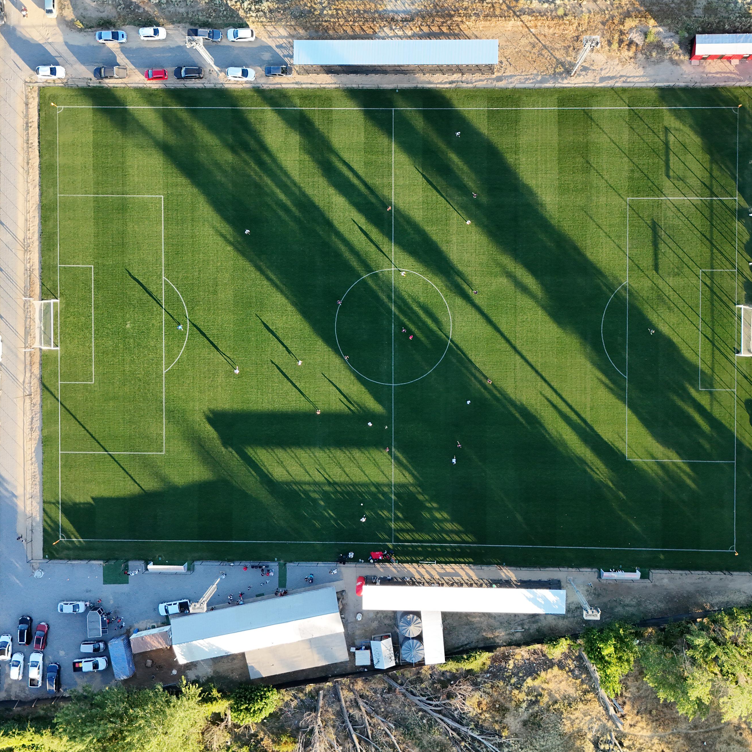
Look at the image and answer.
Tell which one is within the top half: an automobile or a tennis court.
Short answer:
automobile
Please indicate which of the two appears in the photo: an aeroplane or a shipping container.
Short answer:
shipping container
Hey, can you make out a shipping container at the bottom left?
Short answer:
Yes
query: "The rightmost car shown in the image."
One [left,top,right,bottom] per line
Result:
[265,65,294,79]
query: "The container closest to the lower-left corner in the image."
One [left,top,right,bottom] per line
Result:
[108,631,137,680]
